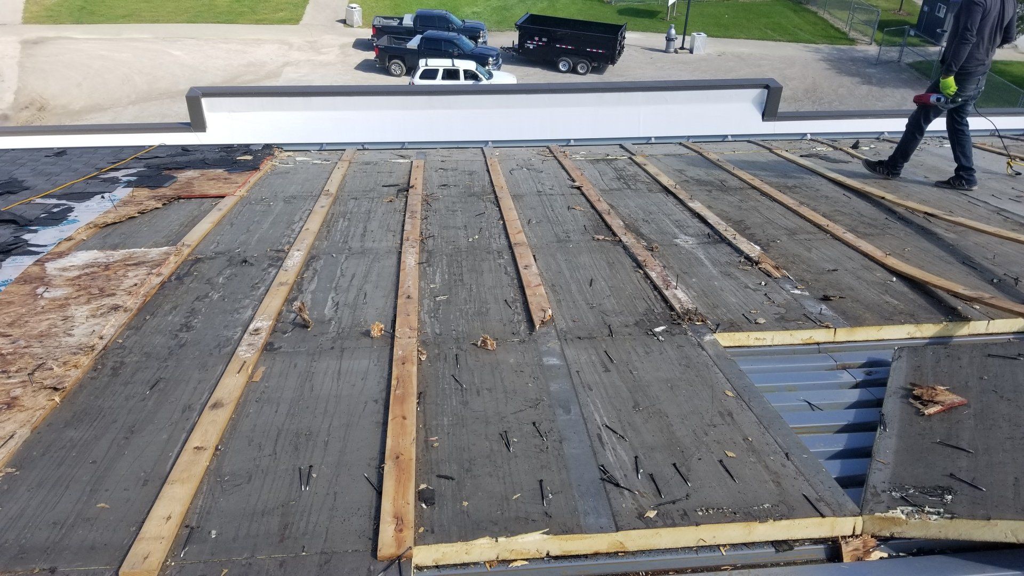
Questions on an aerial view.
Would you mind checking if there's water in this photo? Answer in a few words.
No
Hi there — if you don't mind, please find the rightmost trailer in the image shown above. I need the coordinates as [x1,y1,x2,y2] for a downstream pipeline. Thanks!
[505,13,629,75]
